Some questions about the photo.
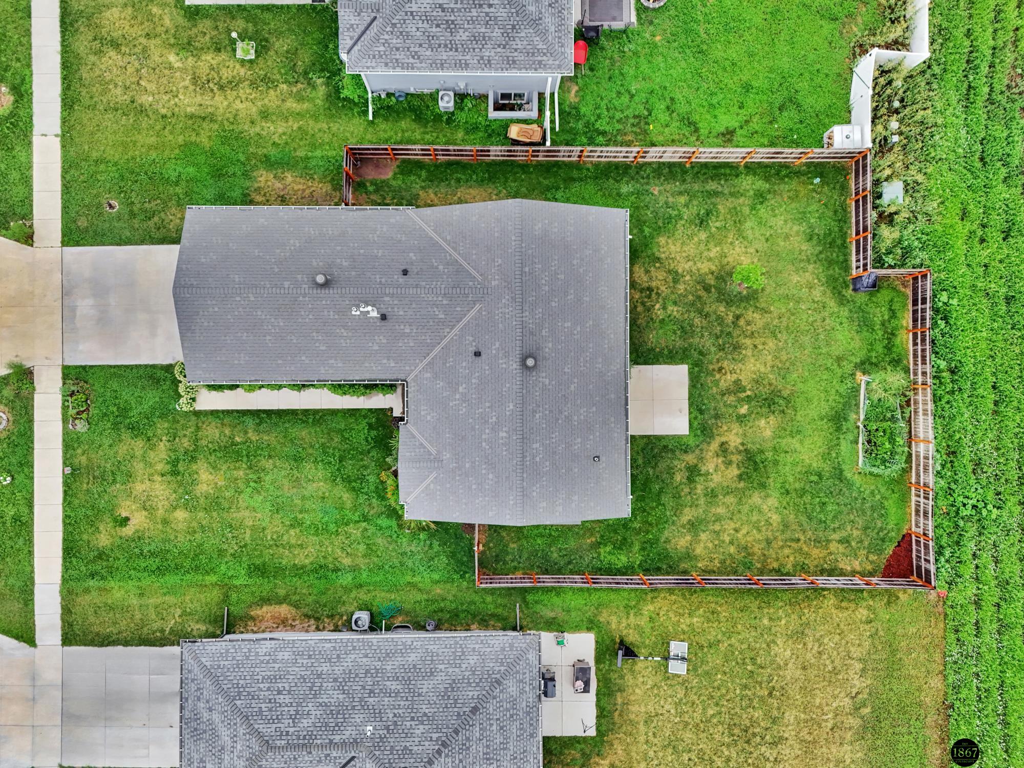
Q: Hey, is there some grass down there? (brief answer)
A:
Yes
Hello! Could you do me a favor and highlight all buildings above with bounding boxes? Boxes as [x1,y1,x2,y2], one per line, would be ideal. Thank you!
[170,199,632,525]
[336,0,575,130]
[177,607,543,768]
